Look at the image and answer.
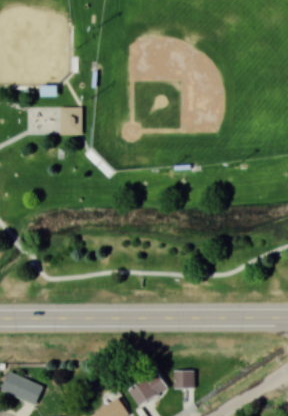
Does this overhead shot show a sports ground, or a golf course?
sports ground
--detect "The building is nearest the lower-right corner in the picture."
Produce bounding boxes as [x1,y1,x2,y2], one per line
[174,370,195,390]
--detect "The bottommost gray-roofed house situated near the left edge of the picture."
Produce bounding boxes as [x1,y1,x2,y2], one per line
[2,372,44,405]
